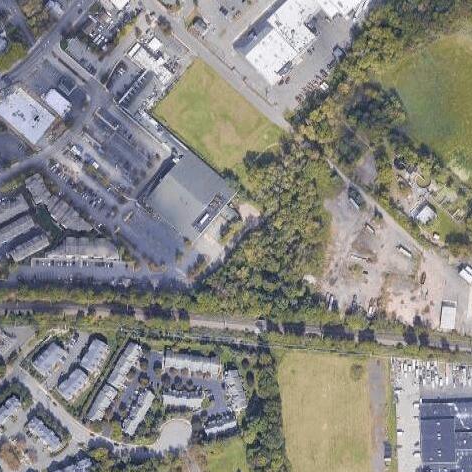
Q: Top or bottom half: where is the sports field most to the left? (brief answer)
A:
top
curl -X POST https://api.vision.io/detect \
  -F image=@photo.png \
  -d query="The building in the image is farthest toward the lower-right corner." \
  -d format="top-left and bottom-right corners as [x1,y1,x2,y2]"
[421,401,472,472]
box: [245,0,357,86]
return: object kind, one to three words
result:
building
